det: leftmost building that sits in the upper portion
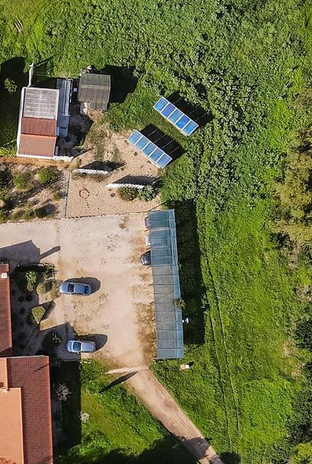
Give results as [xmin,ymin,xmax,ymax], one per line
[14,87,60,160]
